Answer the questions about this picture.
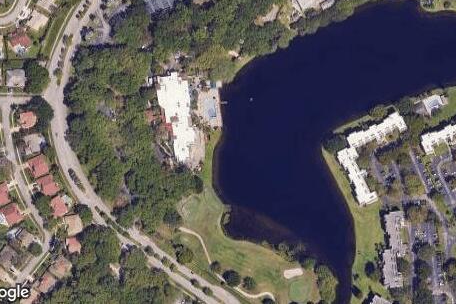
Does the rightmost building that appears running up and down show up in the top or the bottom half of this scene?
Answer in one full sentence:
It is in the bottom half that the rightmost building that appears running up and down appears.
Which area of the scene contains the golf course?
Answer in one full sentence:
Look in the bottom portion of the view to spot the golf course.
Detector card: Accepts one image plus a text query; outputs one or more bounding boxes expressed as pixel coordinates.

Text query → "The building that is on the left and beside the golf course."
[152,71,194,164]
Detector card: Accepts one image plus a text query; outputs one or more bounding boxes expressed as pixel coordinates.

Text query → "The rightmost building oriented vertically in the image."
[381,210,404,288]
